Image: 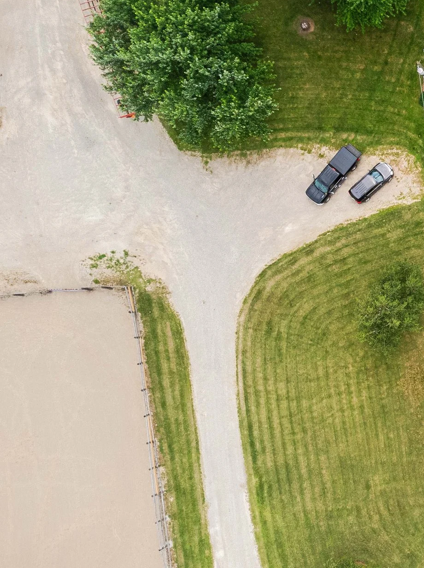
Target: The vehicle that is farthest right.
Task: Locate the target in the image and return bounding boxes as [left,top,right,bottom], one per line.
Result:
[348,161,395,205]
